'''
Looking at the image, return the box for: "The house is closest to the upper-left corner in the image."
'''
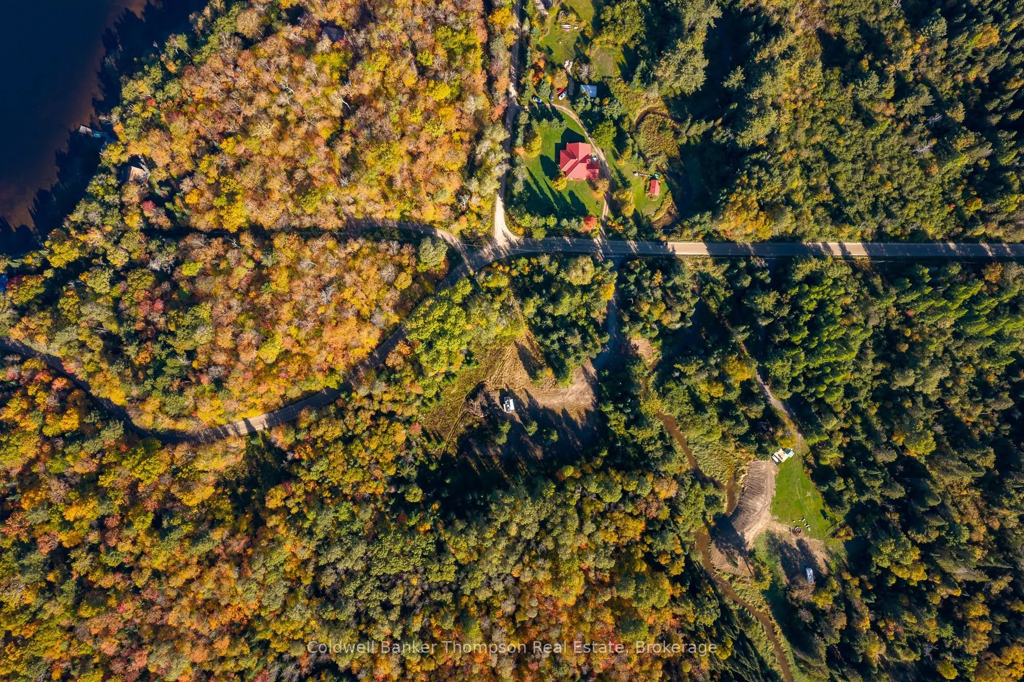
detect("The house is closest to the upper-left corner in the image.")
[121,162,145,183]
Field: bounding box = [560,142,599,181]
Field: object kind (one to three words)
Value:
house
